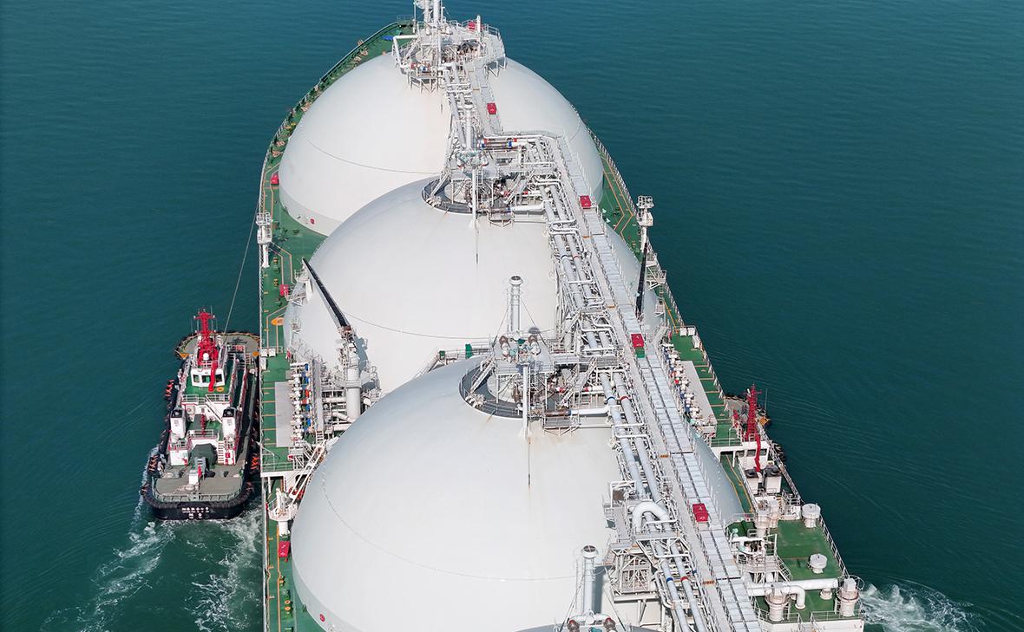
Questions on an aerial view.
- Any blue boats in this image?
No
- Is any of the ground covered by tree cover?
No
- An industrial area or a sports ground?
industrial area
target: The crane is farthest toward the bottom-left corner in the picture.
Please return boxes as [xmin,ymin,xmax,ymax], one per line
[288,254,388,407]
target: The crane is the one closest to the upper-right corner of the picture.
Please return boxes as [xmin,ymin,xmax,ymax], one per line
[634,245,657,346]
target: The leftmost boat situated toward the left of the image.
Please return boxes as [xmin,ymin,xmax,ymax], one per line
[139,309,261,520]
